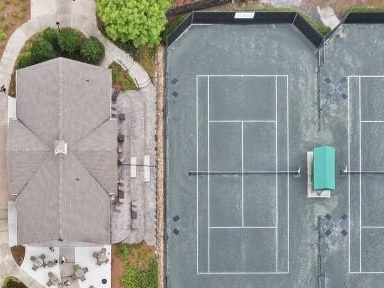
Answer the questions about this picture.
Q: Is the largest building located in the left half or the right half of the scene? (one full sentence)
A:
You can find the largest building on the left side of the picture.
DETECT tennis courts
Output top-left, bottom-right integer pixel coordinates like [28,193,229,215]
[167,23,320,288]
[318,23,384,288]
